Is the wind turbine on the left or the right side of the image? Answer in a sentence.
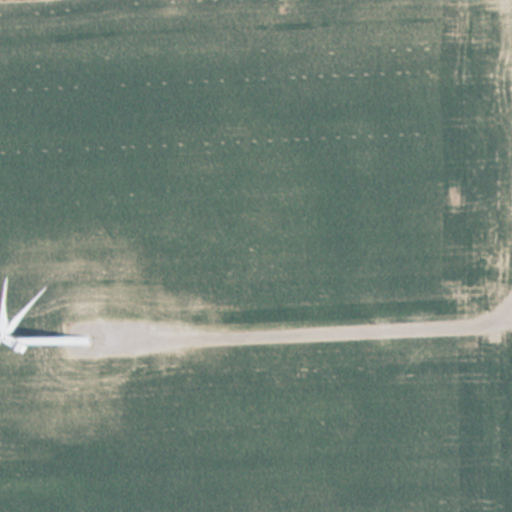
The wind turbine appears in the left half of the scene.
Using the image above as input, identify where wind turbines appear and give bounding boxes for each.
[0,278,94,354]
